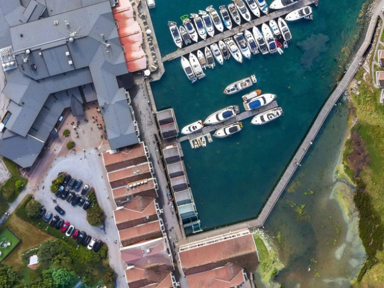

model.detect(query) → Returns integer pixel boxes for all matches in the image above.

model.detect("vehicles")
[83,235,91,246]
[78,232,86,242]
[55,205,66,214]
[61,189,69,199]
[38,207,47,218]
[68,178,77,189]
[81,184,90,195]
[75,180,83,191]
[94,240,102,251]
[83,199,91,209]
[56,185,65,197]
[51,215,59,226]
[77,196,86,207]
[45,211,53,222]
[71,195,81,205]
[66,192,76,202]
[66,225,75,236]
[56,218,64,229]
[72,228,81,239]
[61,222,69,232]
